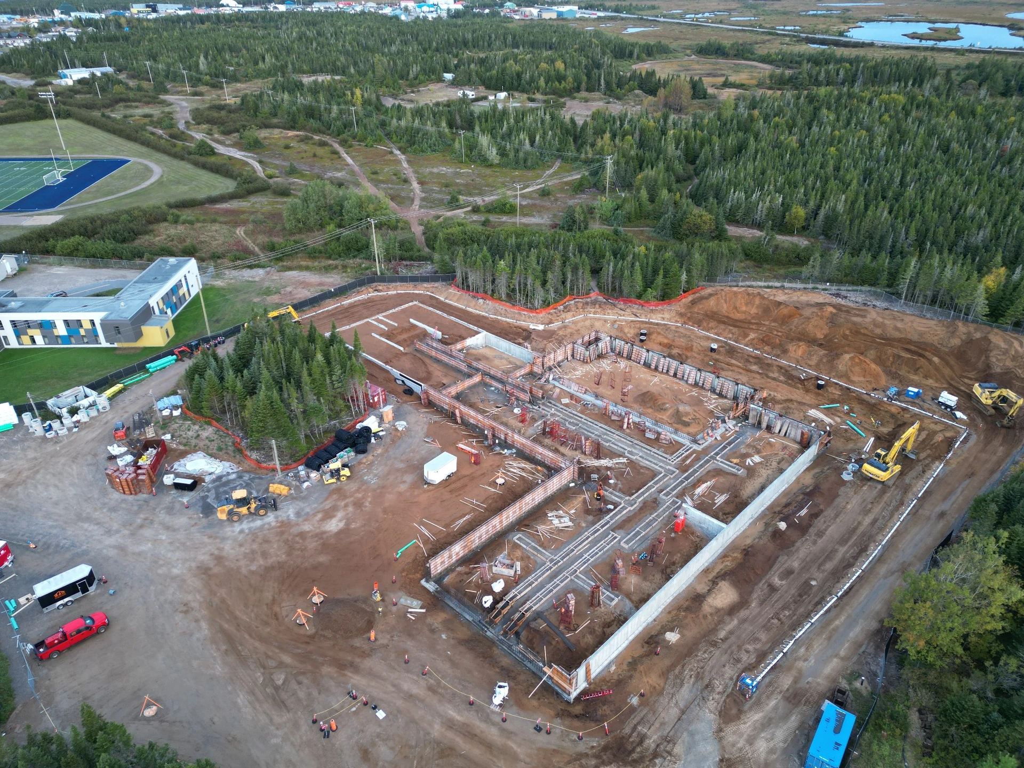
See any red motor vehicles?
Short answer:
Yes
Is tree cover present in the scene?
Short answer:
Yes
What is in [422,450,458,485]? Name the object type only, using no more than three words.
trailer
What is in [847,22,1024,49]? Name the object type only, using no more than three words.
pond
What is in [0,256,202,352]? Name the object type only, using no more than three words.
building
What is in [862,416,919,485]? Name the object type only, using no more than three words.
work vehicle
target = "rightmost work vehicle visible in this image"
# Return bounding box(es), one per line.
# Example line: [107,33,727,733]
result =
[968,388,1024,432]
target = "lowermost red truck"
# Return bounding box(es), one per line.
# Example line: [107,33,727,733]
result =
[28,613,110,666]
